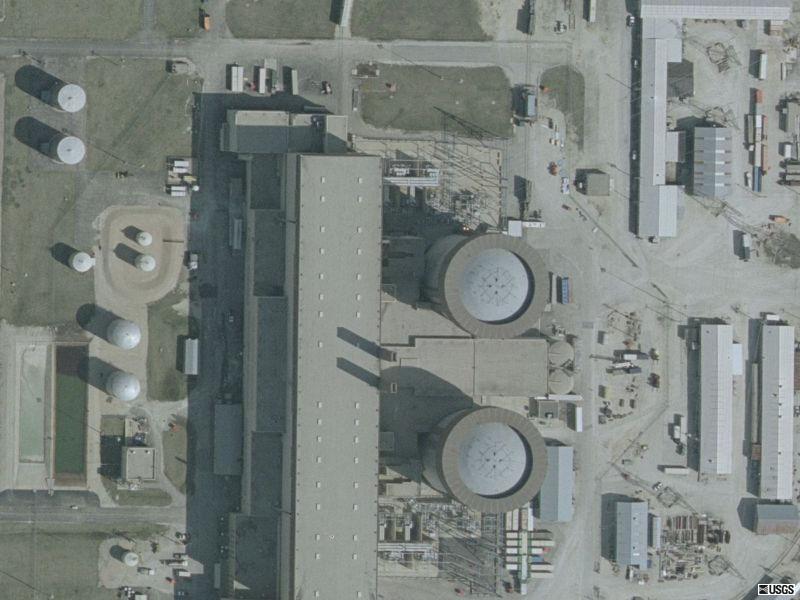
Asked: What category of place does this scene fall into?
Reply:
industrial area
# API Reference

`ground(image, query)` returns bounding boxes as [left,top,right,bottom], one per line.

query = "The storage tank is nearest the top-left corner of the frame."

[48,82,86,115]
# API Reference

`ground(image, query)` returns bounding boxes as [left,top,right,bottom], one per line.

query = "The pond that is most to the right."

[55,343,89,489]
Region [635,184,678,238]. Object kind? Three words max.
building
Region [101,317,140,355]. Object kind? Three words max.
storage tank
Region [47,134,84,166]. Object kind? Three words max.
storage tank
